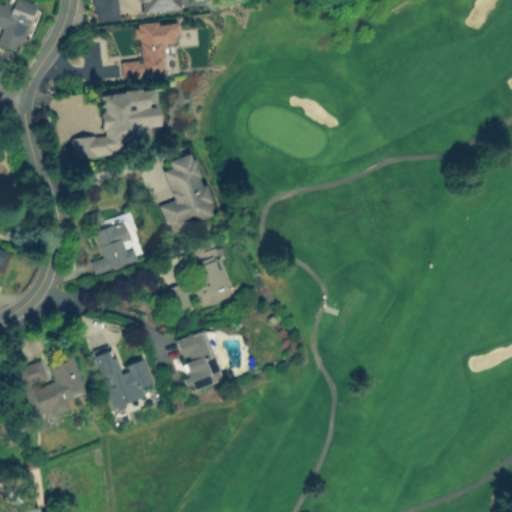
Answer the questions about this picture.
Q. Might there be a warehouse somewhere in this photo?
No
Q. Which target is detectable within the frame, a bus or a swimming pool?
swimming pool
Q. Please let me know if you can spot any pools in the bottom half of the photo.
Yes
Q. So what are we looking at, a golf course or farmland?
golf course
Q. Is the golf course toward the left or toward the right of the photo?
right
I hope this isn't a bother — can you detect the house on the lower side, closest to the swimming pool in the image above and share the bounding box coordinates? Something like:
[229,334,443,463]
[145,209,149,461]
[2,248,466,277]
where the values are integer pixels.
[176,330,224,390]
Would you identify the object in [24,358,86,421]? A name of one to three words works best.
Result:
house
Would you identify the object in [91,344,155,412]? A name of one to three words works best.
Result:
house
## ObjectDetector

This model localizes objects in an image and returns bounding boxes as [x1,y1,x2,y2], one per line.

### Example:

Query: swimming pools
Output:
[207,330,250,376]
